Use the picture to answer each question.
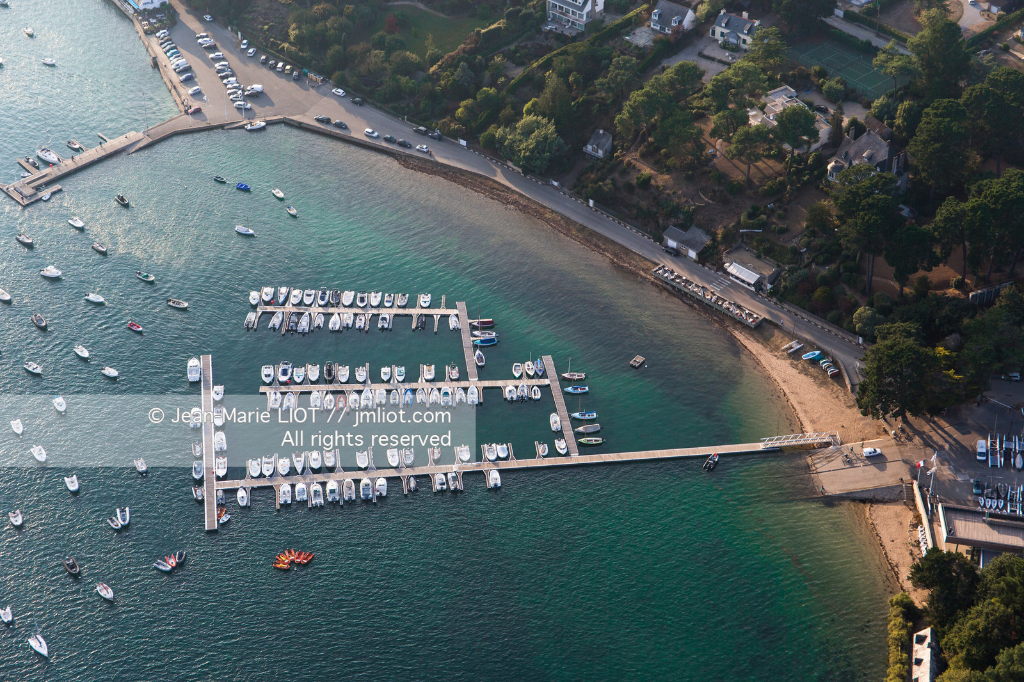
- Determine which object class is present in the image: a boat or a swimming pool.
boat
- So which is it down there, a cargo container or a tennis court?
tennis court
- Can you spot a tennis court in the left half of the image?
No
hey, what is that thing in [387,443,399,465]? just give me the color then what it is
white boat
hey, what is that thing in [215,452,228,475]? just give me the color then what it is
white boat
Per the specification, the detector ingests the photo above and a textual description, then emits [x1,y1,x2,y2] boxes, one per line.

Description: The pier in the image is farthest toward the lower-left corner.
[200,355,218,531]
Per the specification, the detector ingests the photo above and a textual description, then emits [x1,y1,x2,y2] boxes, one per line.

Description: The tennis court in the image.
[780,26,923,100]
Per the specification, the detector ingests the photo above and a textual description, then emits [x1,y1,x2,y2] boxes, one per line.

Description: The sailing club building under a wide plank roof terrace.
[936,505,1024,581]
